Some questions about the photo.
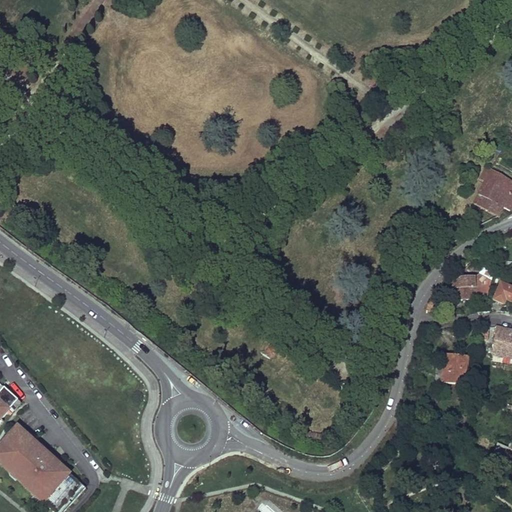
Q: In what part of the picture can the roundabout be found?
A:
bottom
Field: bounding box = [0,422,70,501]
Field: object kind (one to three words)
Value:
building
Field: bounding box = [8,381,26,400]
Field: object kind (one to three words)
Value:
vehicle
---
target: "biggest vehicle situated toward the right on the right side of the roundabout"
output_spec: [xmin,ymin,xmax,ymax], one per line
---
[327,460,348,472]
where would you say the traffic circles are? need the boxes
[157,373,249,488]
